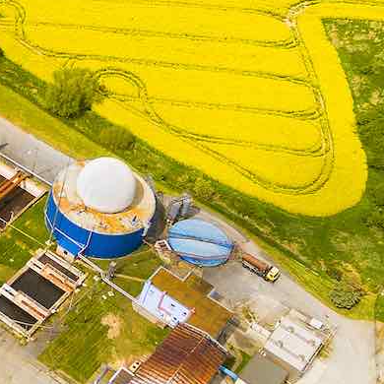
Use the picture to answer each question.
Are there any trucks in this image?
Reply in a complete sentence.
Yes, a truck can be made out from above.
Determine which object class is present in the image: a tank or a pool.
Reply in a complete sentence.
Looking from above, you can make out a tank.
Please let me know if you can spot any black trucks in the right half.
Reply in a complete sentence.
No, there's no black truck to be seen in the right half.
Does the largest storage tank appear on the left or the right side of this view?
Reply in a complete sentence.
The largest storage tank appears in the left half of the scene.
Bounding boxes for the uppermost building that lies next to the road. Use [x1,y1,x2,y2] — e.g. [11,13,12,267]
[134,267,236,342]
